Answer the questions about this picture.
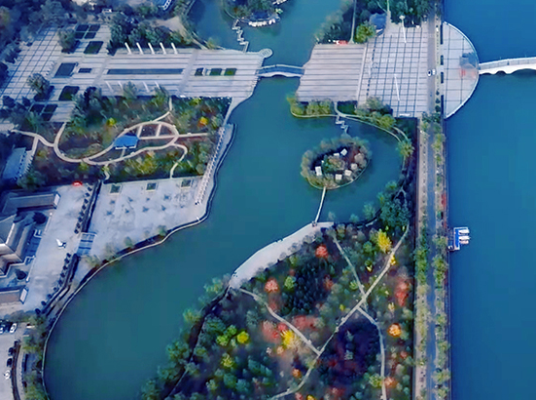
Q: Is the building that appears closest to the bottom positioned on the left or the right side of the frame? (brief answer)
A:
left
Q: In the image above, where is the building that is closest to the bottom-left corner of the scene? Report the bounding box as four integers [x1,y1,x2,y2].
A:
[0,288,30,307]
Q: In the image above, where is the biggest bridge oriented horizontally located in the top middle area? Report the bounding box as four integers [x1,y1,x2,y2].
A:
[256,64,306,77]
